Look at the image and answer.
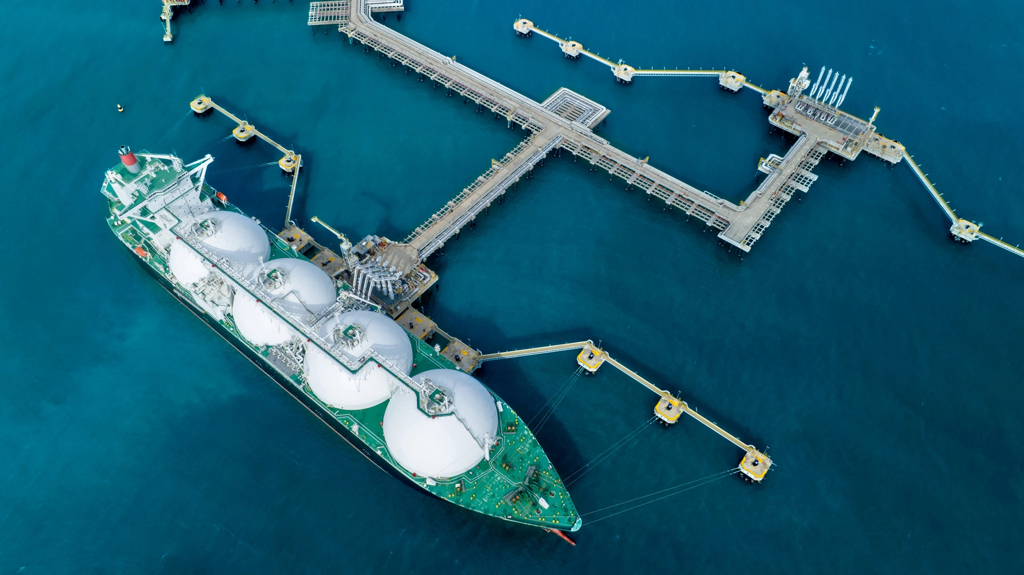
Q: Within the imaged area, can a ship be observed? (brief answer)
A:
Yes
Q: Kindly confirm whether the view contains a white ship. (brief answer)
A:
Yes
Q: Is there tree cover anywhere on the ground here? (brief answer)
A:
No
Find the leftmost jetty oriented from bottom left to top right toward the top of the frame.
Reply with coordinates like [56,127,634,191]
[400,127,566,268]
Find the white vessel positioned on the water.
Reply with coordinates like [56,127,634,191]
[94,139,583,545]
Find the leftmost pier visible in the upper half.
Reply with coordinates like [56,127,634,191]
[307,0,406,32]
